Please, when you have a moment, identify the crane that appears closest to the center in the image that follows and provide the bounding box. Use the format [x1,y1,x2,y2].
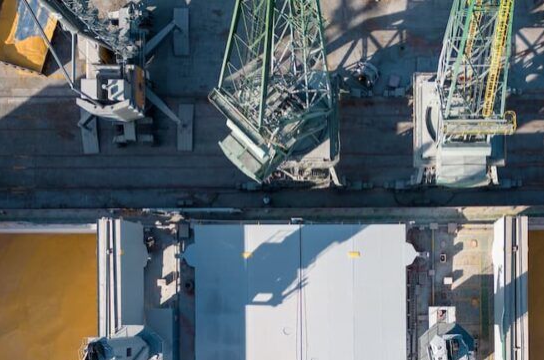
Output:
[197,0,362,189]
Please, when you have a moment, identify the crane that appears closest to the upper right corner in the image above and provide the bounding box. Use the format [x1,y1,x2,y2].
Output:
[390,0,524,192]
